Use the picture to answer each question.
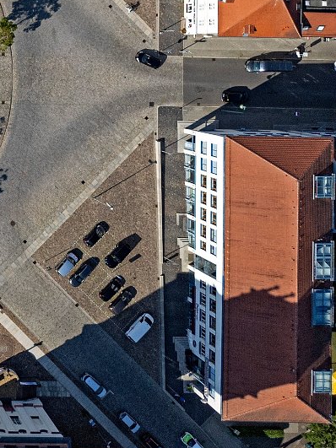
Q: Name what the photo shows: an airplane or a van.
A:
van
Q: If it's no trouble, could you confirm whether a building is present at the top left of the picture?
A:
No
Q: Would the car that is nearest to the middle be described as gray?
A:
No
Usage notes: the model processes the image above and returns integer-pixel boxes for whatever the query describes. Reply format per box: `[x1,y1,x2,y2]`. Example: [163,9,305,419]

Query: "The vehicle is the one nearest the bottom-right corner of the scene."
[179,428,203,448]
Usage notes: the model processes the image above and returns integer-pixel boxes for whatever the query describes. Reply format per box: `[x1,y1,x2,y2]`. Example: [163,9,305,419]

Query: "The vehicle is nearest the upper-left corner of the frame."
[134,49,165,67]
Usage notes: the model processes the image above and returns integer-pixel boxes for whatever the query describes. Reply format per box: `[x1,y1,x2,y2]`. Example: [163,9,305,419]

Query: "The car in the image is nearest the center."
[103,239,134,268]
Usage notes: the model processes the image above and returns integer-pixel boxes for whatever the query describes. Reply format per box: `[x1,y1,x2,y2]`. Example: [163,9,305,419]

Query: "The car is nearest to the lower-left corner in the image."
[80,371,107,397]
